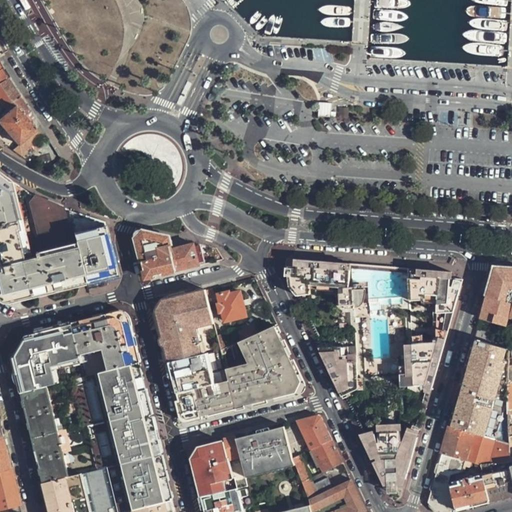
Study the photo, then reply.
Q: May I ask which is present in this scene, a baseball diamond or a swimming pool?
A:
swimming pool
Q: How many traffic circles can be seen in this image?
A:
two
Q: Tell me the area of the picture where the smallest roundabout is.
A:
top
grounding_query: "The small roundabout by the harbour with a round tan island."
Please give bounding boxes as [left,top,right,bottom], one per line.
[195,10,244,59]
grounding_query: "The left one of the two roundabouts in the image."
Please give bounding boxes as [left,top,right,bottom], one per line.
[96,112,206,222]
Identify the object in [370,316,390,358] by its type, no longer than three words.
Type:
swimming pool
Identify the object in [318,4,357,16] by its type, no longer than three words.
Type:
boat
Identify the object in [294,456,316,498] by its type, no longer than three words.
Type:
house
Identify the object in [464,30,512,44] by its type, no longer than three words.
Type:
boat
